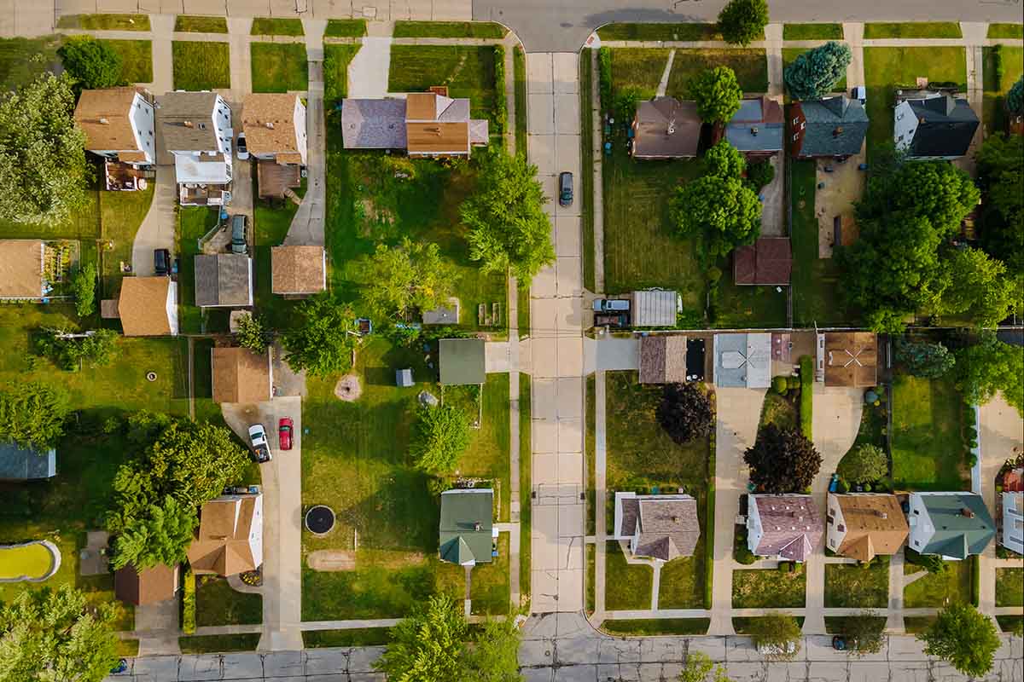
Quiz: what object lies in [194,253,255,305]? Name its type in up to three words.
building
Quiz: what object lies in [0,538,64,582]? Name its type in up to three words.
swimming pool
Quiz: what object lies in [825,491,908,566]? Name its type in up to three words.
house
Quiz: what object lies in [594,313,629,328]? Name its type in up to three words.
car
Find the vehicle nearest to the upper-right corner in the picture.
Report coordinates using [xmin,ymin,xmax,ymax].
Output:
[850,78,869,109]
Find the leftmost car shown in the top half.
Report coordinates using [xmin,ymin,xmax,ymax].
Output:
[153,248,172,276]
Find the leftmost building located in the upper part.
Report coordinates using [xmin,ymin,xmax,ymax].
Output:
[0,239,54,300]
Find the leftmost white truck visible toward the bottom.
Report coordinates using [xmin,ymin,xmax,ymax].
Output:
[249,424,272,463]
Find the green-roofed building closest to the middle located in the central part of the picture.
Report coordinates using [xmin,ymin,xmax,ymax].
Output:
[439,339,485,383]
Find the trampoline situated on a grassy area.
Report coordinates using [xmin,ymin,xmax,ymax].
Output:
[305,504,336,535]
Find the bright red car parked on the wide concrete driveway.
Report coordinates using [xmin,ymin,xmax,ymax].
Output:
[277,416,294,450]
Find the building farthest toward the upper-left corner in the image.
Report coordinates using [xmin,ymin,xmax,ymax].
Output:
[73,88,157,166]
